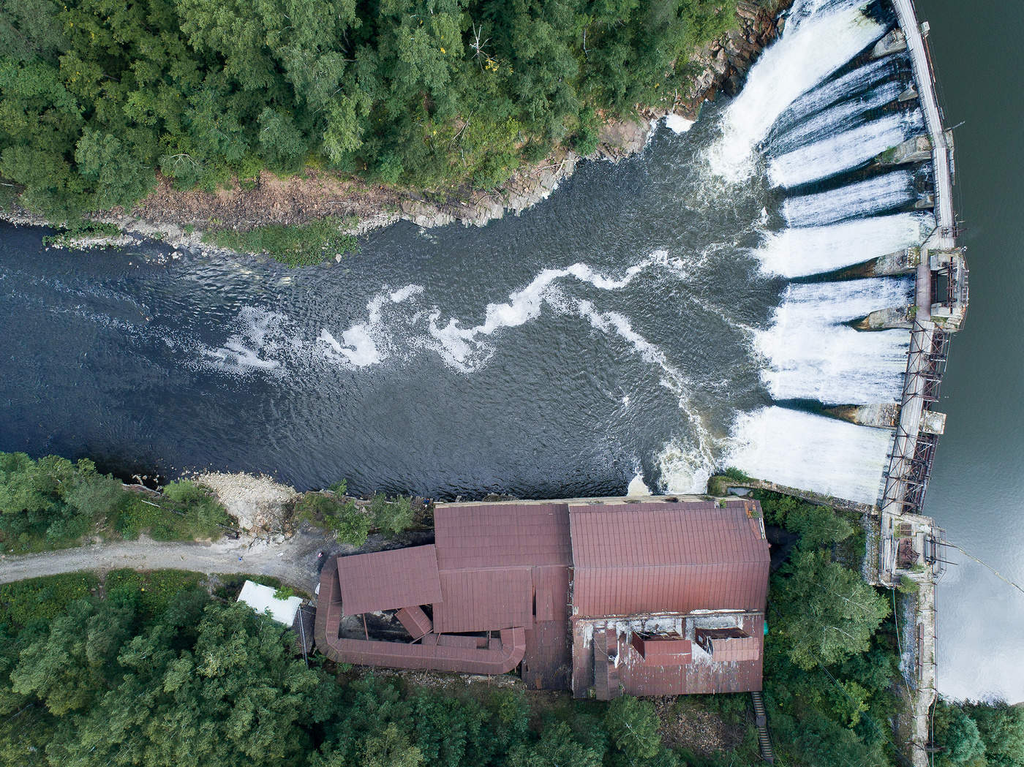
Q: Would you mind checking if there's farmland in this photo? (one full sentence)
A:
No, there's no farmland in this view.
